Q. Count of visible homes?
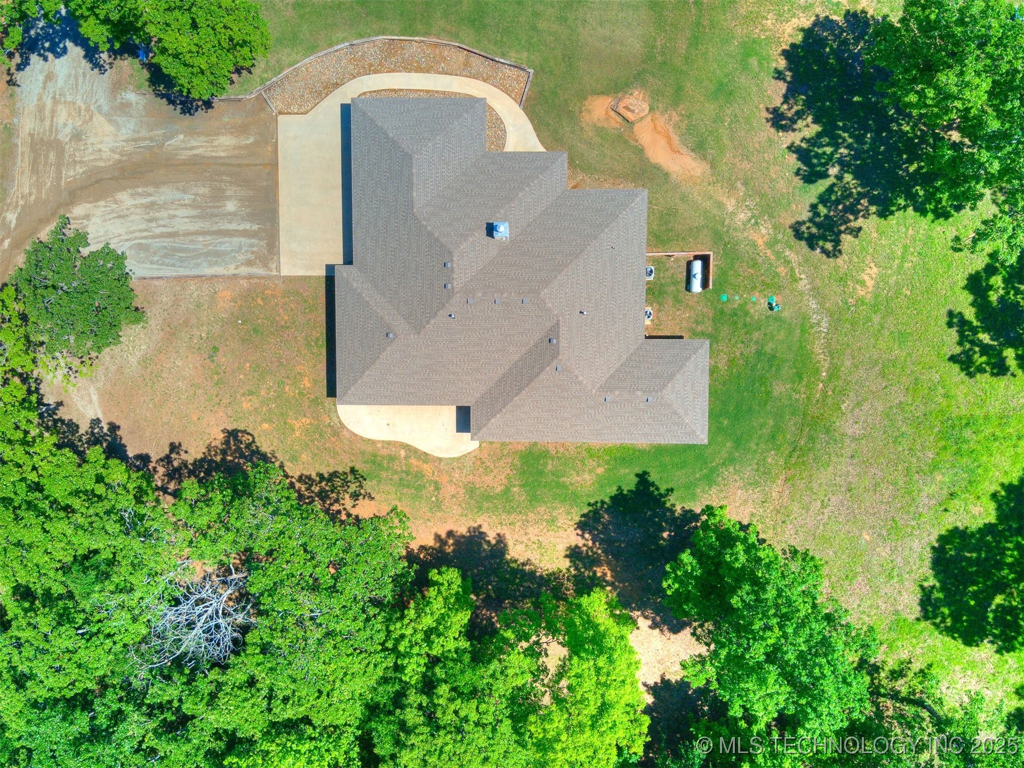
1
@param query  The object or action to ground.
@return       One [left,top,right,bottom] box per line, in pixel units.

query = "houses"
[334,96,711,445]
